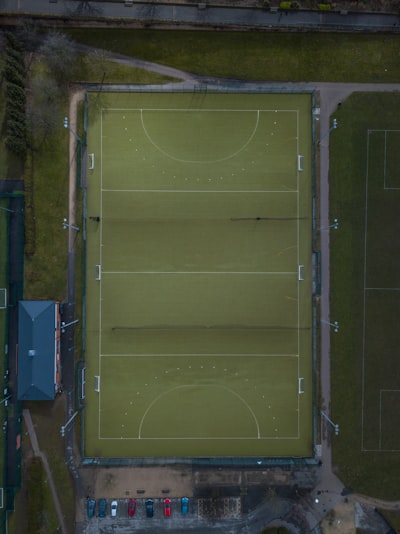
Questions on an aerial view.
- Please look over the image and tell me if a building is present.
Yes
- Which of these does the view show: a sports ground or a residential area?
sports ground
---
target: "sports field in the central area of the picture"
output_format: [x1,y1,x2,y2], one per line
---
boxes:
[85,92,313,458]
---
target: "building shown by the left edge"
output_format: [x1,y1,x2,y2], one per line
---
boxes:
[16,300,61,401]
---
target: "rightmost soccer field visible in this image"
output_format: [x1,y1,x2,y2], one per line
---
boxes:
[330,97,400,494]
